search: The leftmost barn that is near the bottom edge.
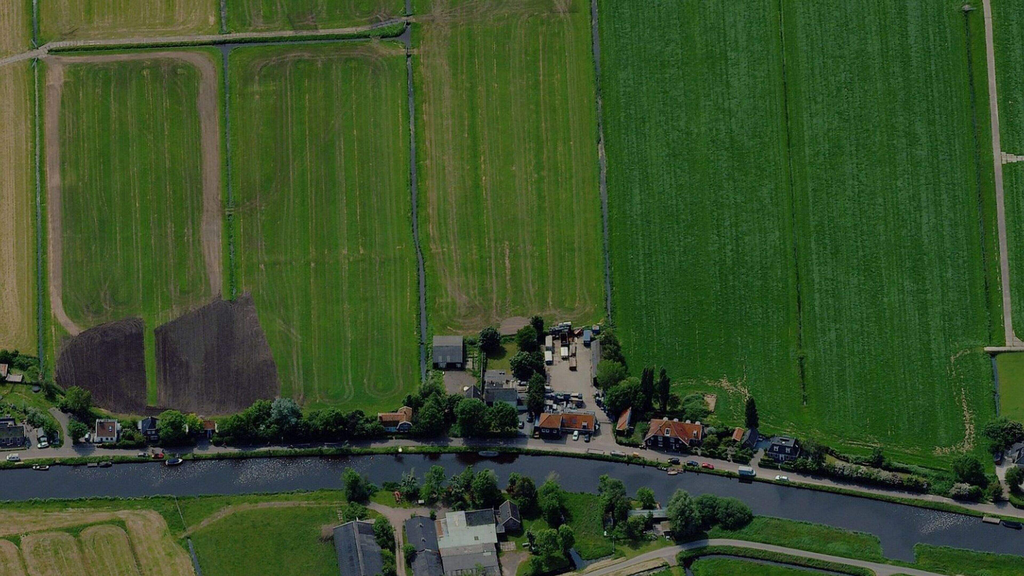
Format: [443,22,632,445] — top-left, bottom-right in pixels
[333,521,381,576]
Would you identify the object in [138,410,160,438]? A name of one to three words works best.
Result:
house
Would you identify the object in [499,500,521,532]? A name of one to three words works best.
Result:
house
